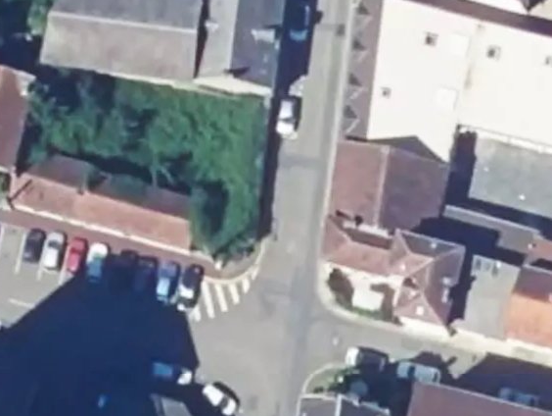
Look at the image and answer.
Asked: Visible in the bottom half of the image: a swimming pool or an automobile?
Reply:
automobile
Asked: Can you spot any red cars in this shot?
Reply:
Yes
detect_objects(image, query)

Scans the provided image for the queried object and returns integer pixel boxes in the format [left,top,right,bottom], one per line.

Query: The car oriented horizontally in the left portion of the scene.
[153,361,196,385]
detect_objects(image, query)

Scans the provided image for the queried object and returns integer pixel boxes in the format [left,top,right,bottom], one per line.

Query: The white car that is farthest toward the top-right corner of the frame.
[277,99,296,139]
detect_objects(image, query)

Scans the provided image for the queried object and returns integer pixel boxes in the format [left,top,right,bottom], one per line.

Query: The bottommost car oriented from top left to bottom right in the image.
[202,381,240,416]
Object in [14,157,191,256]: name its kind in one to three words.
shed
